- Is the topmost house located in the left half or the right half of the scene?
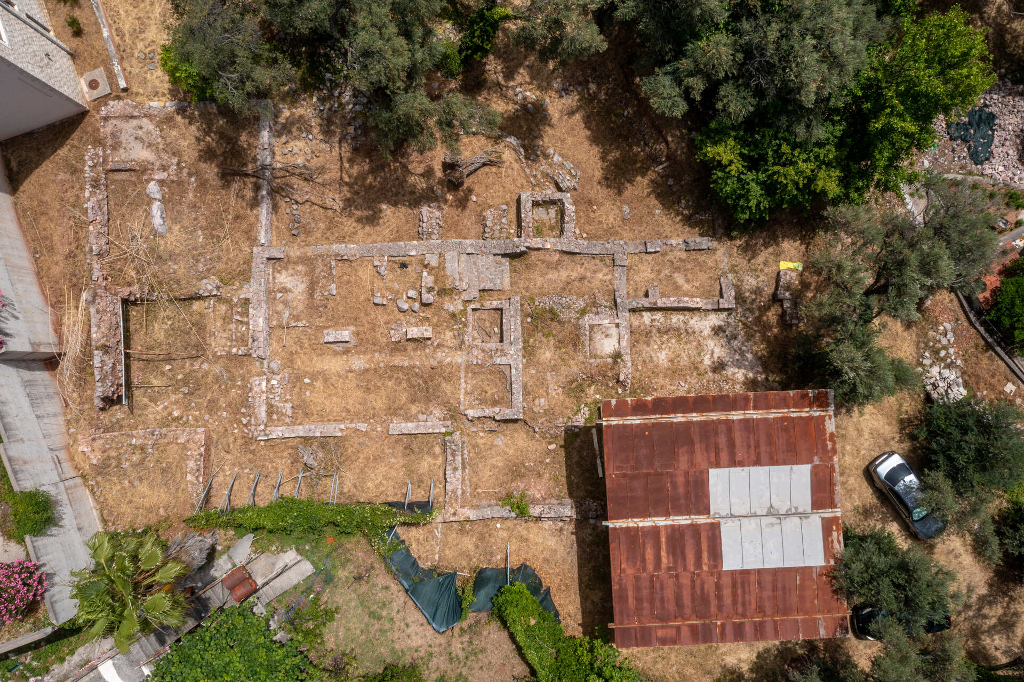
left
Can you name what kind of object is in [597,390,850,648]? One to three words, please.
shed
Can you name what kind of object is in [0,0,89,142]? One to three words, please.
house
